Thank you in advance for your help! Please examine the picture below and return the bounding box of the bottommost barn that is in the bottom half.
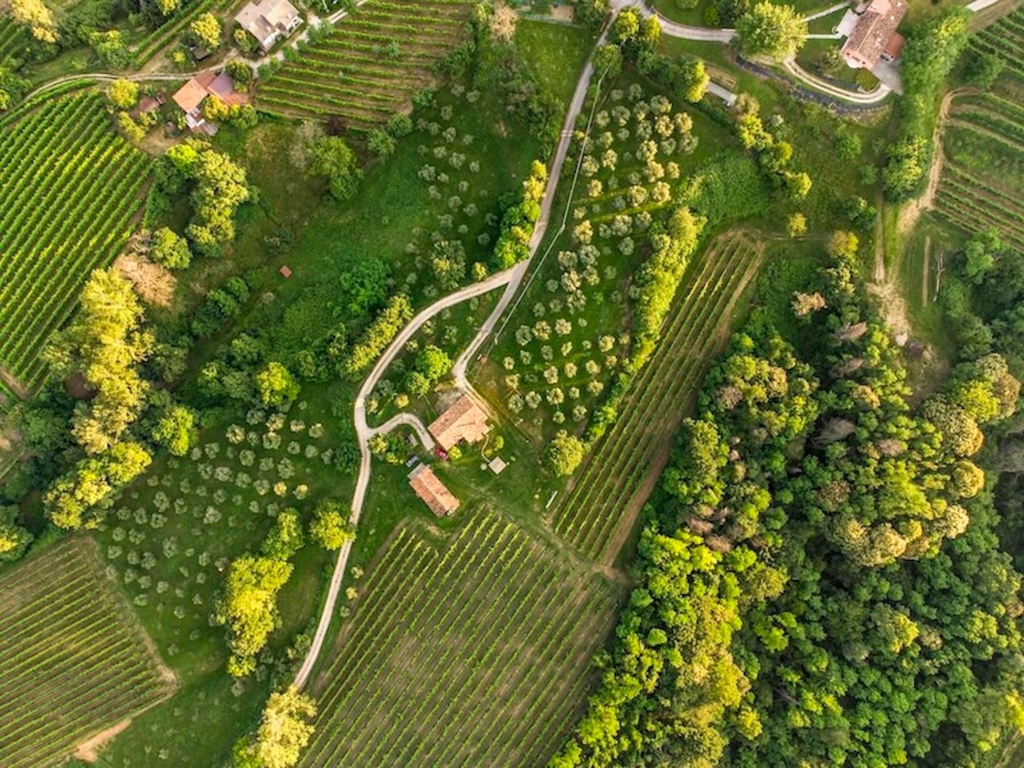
[407,461,462,517]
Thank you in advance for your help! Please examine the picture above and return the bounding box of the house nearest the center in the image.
[427,393,493,451]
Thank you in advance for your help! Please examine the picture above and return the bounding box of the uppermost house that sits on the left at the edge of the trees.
[234,0,305,52]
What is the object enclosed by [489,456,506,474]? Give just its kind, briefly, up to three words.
gazebo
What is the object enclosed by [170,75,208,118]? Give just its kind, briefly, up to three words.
building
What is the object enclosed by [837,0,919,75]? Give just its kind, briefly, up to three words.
house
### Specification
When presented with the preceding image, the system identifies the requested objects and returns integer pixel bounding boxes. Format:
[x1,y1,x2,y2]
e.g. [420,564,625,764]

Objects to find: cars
[405,456,419,467]
[435,447,449,459]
